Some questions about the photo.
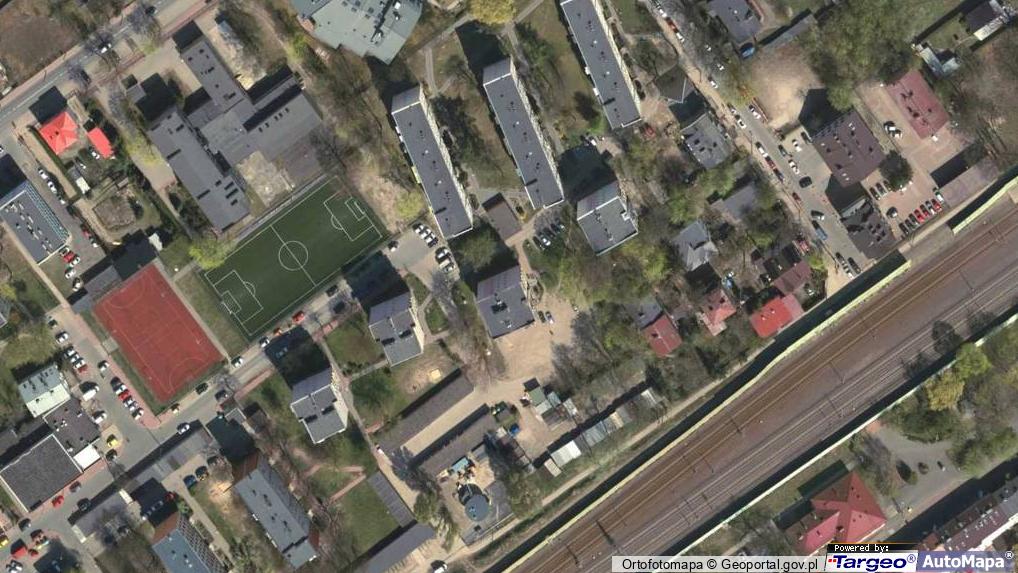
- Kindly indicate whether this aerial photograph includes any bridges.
No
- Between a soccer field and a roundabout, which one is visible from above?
soccer field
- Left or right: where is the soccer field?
left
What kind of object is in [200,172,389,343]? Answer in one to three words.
soccer field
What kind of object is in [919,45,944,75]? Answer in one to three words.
shed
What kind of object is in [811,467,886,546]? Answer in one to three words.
house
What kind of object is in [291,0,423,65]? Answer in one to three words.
building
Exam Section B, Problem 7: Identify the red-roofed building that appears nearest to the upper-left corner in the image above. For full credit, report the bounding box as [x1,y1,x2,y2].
[40,108,80,154]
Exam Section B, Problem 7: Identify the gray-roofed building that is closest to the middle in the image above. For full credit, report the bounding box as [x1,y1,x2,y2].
[478,270,534,338]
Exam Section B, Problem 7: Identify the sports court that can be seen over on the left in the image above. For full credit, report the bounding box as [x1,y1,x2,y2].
[93,265,222,404]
